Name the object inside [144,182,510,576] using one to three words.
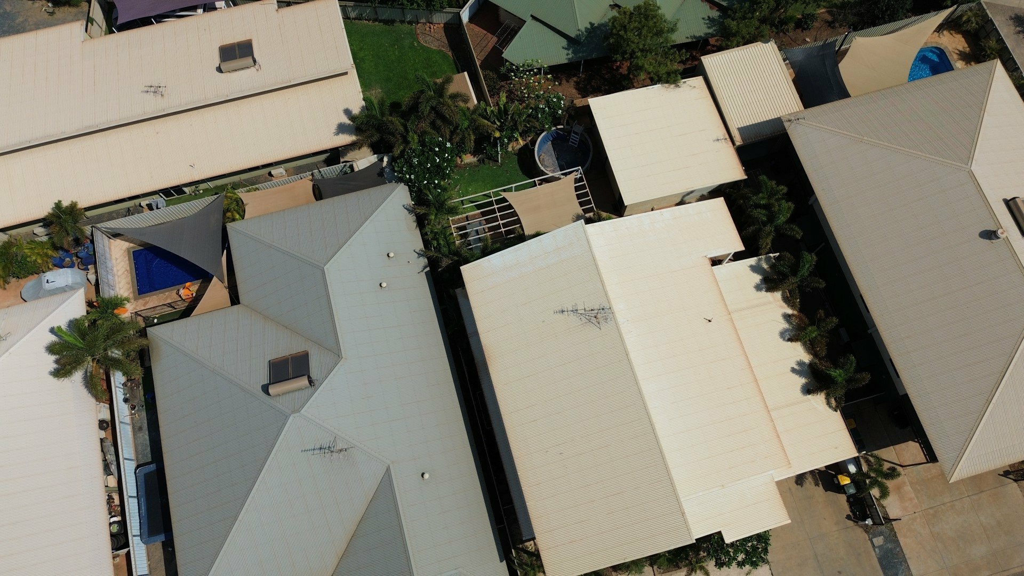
house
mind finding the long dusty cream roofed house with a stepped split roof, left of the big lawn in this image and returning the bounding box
[0,0,369,238]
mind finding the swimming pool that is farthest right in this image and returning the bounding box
[908,46,954,82]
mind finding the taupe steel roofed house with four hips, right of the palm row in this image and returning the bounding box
[772,59,1024,482]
